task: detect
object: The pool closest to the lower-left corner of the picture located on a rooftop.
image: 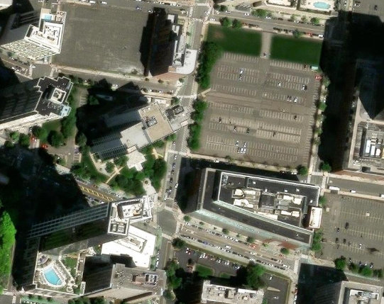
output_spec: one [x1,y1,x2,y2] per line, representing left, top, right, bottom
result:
[44,267,62,285]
